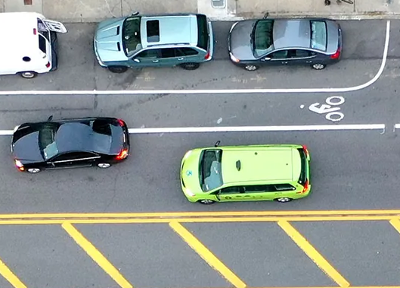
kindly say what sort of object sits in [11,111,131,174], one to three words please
car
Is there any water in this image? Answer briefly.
No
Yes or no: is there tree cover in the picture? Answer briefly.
No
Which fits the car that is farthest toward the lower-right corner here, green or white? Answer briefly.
green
